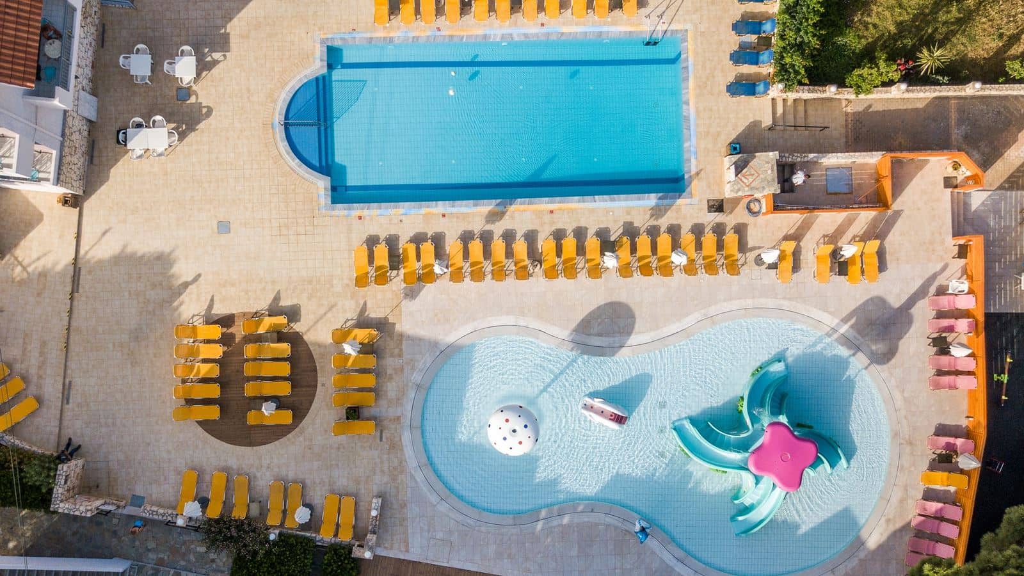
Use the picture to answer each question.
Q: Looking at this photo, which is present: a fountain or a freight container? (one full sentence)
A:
I can see a fountain in this picture.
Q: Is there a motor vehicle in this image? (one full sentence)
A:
No, I find no motor vehicle anywhere in the image.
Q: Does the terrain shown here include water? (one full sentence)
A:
Yes, some water is visible.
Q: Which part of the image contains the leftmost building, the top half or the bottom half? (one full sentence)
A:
You can find the leftmost building in the top half.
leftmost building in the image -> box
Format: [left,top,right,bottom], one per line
[0,0,100,194]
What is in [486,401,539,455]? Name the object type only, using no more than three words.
fountain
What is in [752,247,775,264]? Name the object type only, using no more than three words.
umbrella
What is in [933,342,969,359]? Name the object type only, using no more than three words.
umbrella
